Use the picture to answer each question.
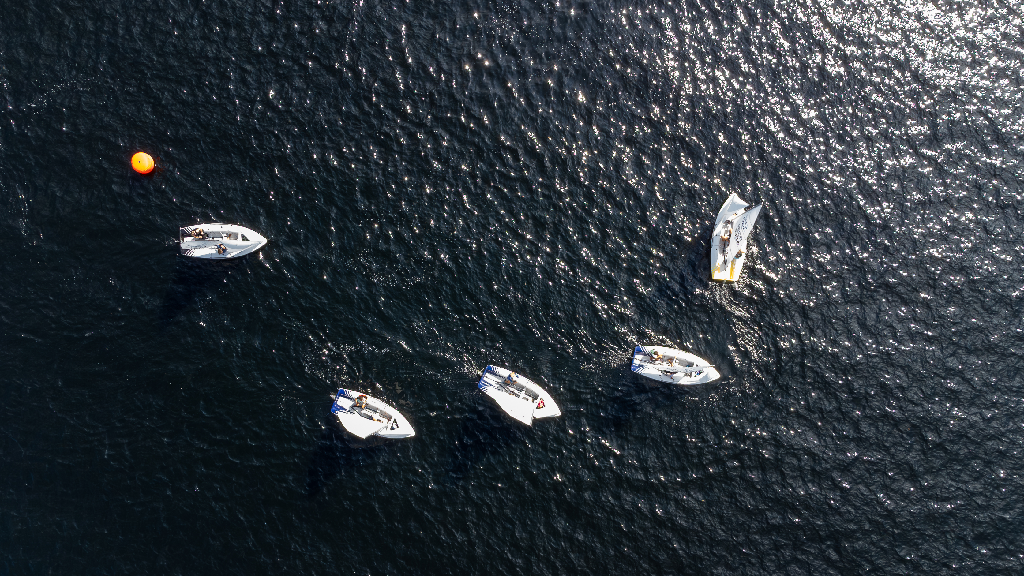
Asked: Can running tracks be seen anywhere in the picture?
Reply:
No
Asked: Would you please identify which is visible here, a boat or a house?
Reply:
boat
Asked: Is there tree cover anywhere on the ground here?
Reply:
No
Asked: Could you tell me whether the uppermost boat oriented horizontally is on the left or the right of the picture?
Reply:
left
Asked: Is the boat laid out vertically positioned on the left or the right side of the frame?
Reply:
right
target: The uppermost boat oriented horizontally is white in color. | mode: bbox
[175,224,266,260]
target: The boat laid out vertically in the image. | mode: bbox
[710,192,761,287]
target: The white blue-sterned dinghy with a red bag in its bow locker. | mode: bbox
[476,365,561,425]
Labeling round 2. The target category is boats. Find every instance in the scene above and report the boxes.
[330,388,415,441]
[710,192,761,287]
[627,344,720,385]
[476,365,561,425]
[175,224,266,260]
